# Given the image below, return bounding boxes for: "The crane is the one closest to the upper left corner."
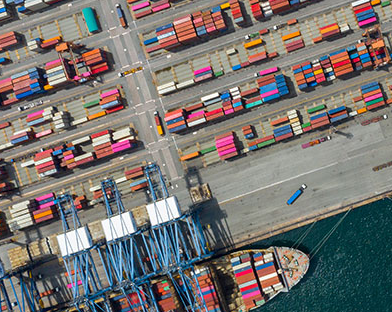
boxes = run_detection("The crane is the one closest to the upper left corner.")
[52,40,93,86]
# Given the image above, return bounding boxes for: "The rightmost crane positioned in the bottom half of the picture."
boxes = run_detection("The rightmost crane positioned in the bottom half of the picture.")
[141,163,215,312]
